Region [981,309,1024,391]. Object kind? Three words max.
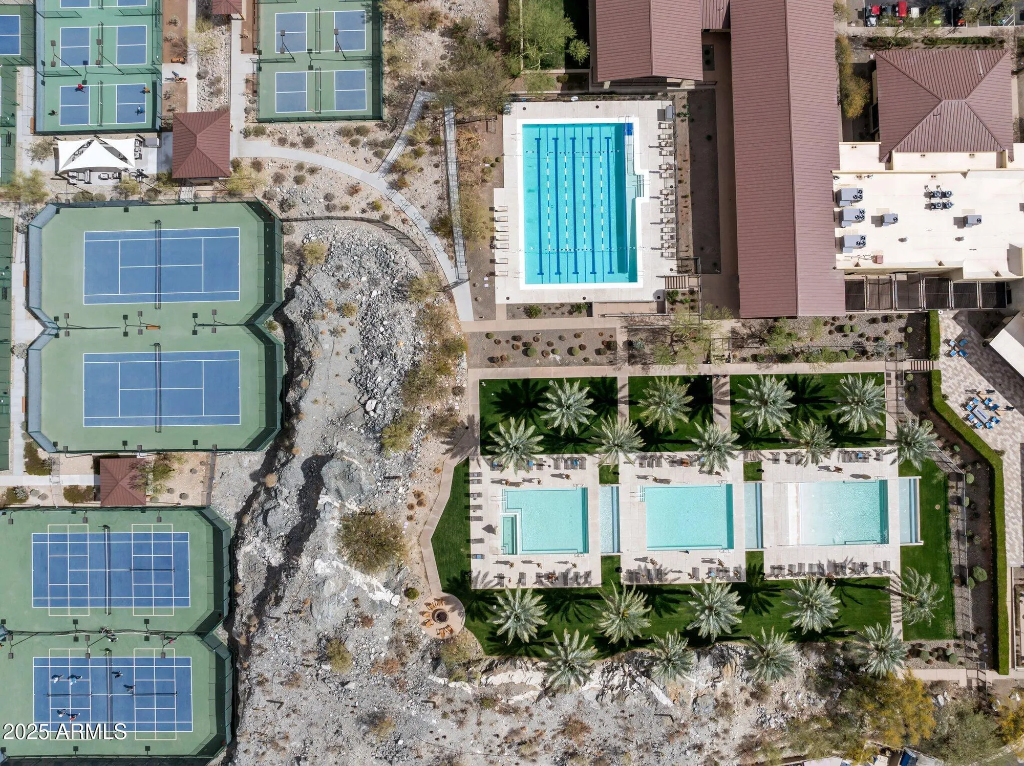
building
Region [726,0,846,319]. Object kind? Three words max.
building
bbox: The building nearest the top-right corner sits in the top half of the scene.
[865,48,1015,163]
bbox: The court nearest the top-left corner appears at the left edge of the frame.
[0,4,34,65]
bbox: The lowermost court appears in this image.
[0,632,234,763]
